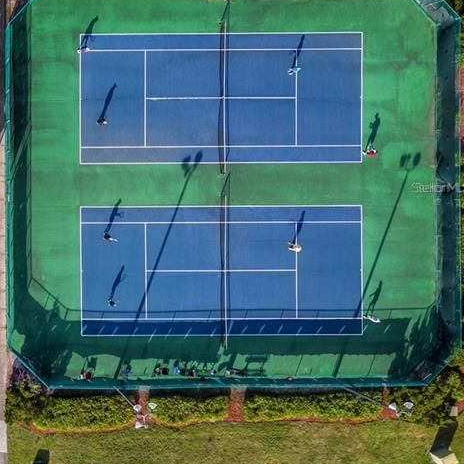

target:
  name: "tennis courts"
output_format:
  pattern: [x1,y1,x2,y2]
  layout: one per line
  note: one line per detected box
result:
[80,32,363,164]
[80,205,363,336]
